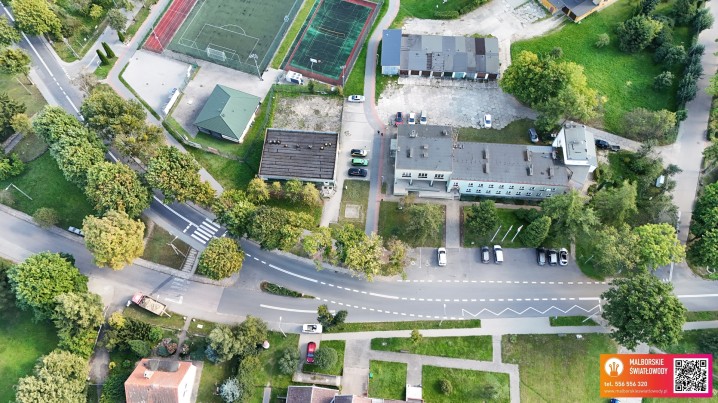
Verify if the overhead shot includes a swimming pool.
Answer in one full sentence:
No, there appears to be no swimming pool in this shot.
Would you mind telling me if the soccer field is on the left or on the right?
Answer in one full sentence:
The soccer field is on the left side of the image.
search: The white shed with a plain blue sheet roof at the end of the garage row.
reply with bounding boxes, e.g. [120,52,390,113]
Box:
[381,29,402,74]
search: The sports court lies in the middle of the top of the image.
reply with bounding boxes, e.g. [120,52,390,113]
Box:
[286,0,377,86]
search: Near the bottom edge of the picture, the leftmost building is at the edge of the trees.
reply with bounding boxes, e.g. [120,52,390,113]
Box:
[124,359,196,403]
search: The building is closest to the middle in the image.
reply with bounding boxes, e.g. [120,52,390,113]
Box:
[259,128,339,200]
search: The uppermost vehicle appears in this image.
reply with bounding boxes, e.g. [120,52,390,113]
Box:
[282,67,305,85]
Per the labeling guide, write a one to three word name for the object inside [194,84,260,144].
building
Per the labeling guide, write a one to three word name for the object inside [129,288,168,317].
truck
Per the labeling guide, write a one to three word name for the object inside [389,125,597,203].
building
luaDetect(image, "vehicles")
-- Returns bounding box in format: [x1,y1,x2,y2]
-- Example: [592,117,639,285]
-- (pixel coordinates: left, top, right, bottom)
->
[350,149,367,158]
[67,224,86,238]
[129,288,168,317]
[282,67,305,85]
[536,247,546,266]
[302,323,323,334]
[408,111,416,125]
[348,168,368,177]
[438,247,447,267]
[481,246,491,265]
[493,245,504,265]
[306,342,317,364]
[595,138,613,150]
[483,113,492,130]
[350,158,367,167]
[419,109,427,125]
[347,94,365,102]
[557,247,569,266]
[395,111,404,127]
[547,249,557,266]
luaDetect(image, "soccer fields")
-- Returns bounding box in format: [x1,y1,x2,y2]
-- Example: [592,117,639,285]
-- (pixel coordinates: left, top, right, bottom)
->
[165,0,302,76]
